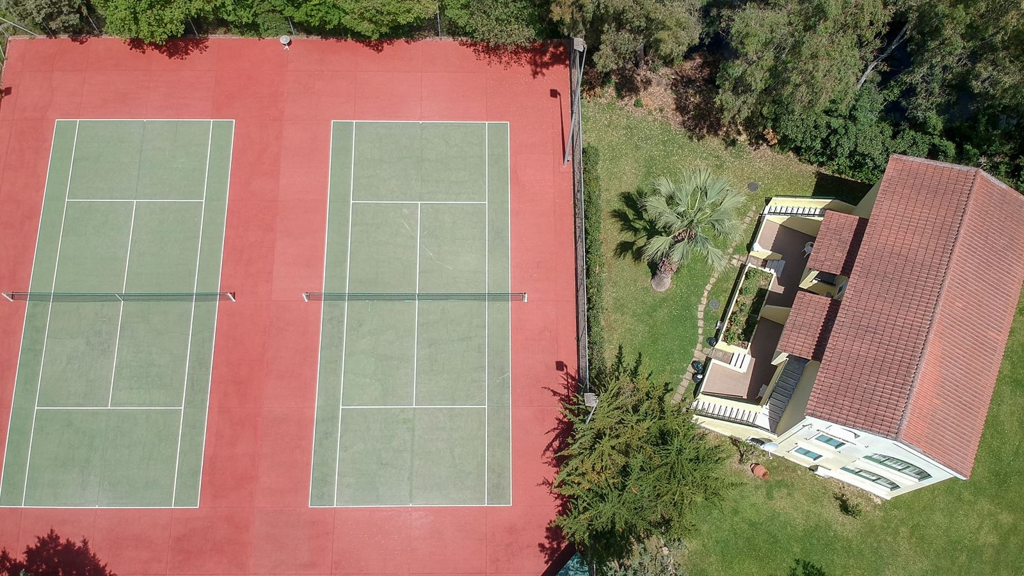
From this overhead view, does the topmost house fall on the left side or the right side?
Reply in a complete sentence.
The topmost house is on the right side of the image.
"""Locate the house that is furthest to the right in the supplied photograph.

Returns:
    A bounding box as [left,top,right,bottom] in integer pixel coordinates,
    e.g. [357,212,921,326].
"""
[688,148,1024,500]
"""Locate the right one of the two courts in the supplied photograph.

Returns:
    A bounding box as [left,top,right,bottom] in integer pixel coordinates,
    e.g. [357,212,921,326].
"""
[250,40,585,576]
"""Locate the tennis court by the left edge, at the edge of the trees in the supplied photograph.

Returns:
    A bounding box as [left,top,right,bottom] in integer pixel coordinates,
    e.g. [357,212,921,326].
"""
[0,38,289,576]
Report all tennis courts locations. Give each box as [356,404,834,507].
[0,38,289,576]
[250,40,585,576]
